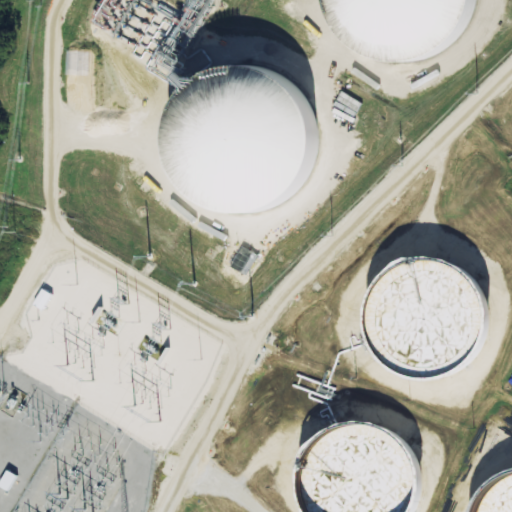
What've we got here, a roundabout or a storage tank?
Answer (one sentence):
I can see a storage tank in this picture.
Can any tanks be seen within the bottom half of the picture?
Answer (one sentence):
Yes, there is a tank within the bottom half of the picture.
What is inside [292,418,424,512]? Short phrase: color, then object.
white storage tank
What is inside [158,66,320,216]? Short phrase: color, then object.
white storage tank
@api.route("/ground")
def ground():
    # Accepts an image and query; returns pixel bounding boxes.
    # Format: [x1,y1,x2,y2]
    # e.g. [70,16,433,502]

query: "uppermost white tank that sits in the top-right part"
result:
[322,0,479,68]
